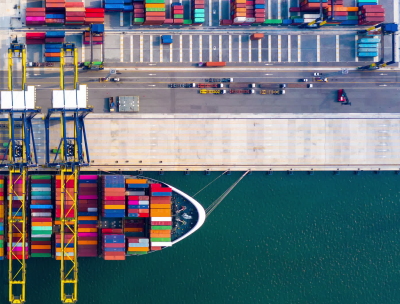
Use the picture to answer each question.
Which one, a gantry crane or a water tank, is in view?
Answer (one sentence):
Looking from above, you can make out a gantry crane.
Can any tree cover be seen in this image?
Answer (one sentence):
No, there is no tree cover in the image.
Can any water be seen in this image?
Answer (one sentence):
Yes, there is water in the image.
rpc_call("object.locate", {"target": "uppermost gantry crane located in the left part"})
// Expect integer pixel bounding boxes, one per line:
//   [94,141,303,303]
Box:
[83,22,106,72]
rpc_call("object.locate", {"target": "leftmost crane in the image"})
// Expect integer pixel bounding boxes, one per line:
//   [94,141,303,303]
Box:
[0,37,42,304]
